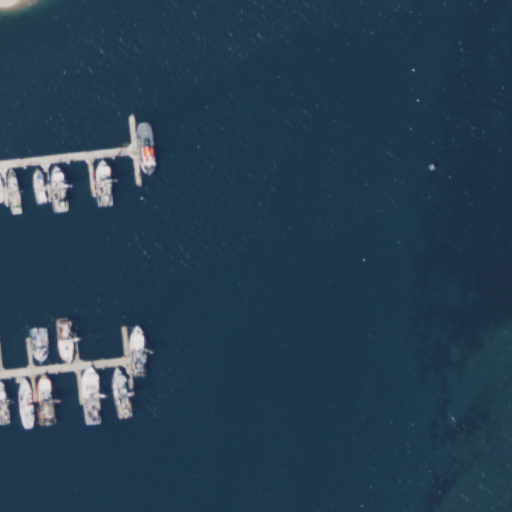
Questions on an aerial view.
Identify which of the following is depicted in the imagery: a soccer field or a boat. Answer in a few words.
boat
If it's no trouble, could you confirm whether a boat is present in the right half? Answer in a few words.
No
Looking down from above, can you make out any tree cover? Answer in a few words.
No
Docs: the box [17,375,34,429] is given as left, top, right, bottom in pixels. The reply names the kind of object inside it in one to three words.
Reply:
boat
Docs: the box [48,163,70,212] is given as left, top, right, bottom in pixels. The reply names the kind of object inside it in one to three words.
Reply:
boat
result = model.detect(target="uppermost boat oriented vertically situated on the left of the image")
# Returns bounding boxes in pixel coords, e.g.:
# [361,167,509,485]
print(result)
[134,122,156,182]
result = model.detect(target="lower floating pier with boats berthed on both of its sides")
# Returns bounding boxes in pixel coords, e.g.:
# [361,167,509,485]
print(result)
[0,326,134,406]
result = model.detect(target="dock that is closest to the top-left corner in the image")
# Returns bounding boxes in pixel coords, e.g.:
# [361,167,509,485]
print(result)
[0,114,142,207]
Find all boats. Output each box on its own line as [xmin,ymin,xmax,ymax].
[134,122,156,182]
[17,375,34,429]
[6,168,24,215]
[48,163,70,212]
[56,318,77,364]
[33,167,47,206]
[35,373,58,426]
[82,366,104,426]
[28,328,49,366]
[126,326,151,377]
[0,376,12,426]
[112,366,134,419]
[94,160,116,206]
